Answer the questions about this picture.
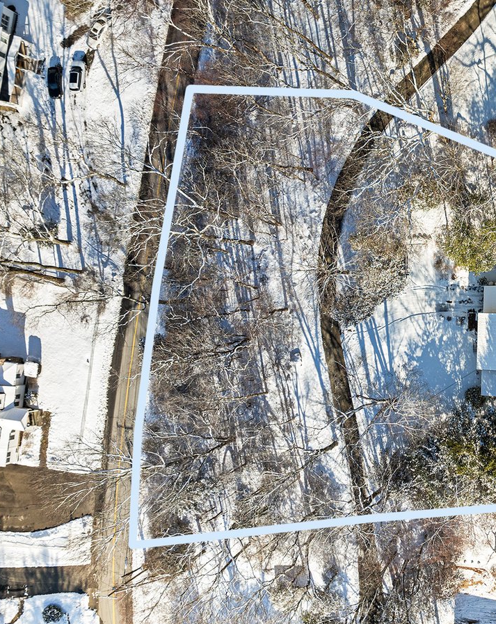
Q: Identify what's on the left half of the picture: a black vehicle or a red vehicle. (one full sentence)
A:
The one visible on the left half of the picture is a black vehicle.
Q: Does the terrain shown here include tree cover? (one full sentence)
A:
Yes, tree cover shows up in the scene.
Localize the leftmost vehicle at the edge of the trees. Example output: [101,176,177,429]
[41,63,61,98]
